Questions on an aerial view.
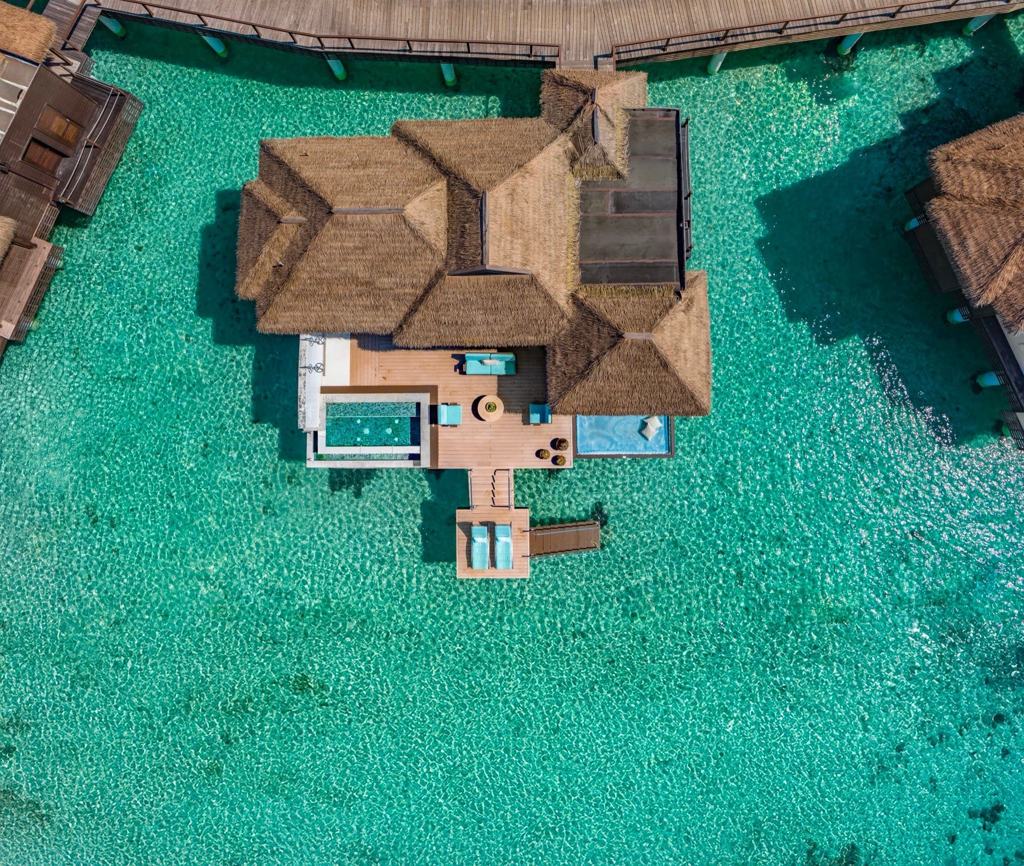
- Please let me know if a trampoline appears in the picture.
No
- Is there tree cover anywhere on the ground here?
No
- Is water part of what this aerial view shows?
Yes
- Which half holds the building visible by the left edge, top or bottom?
top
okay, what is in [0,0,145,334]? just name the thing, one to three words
building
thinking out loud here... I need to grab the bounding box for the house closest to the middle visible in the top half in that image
[229,64,718,420]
